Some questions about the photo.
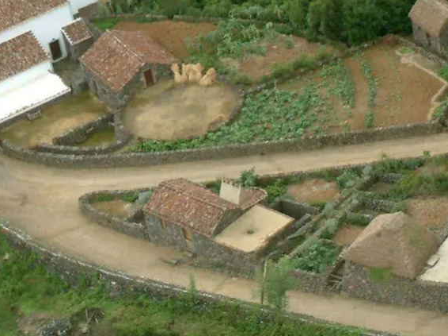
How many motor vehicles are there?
zero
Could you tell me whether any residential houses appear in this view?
Yes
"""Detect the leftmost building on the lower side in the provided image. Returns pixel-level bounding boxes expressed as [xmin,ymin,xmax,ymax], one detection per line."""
[144,173,296,278]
